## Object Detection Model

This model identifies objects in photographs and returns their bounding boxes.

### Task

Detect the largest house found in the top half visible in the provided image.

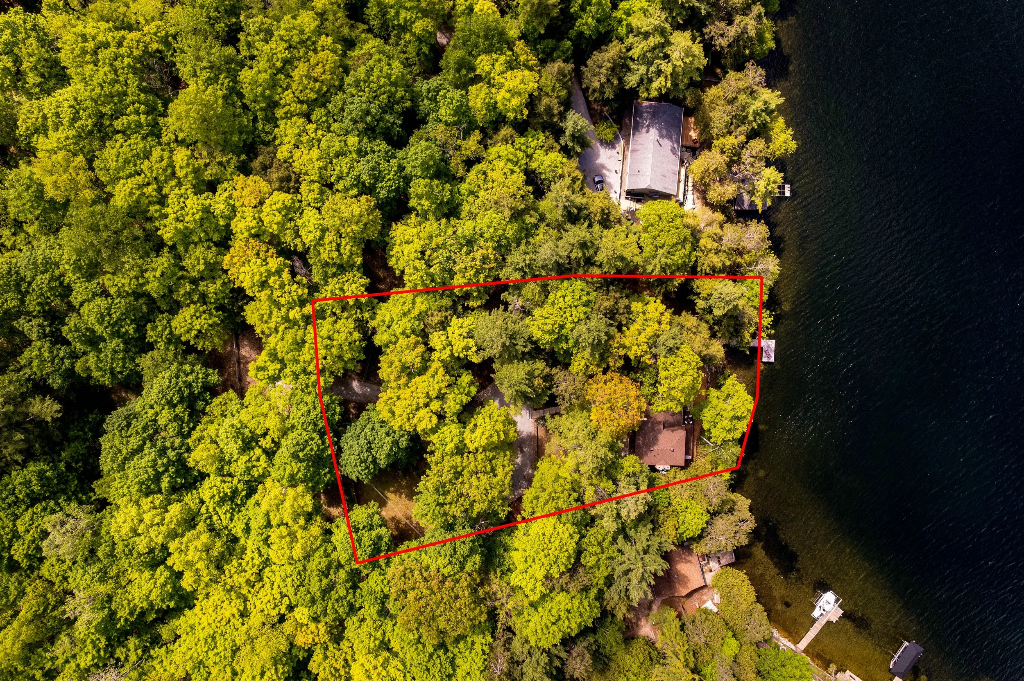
[623,100,684,207]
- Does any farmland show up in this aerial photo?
No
